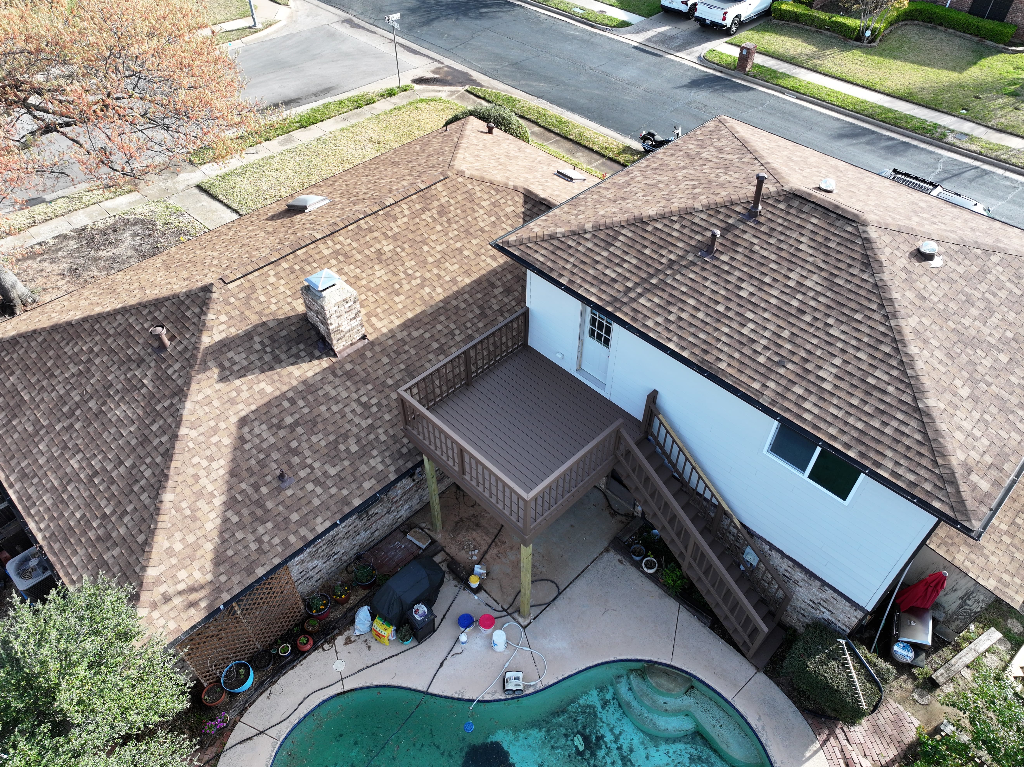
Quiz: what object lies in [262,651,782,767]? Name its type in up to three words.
swimming pool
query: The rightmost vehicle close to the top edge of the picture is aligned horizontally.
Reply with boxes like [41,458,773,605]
[692,0,778,36]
